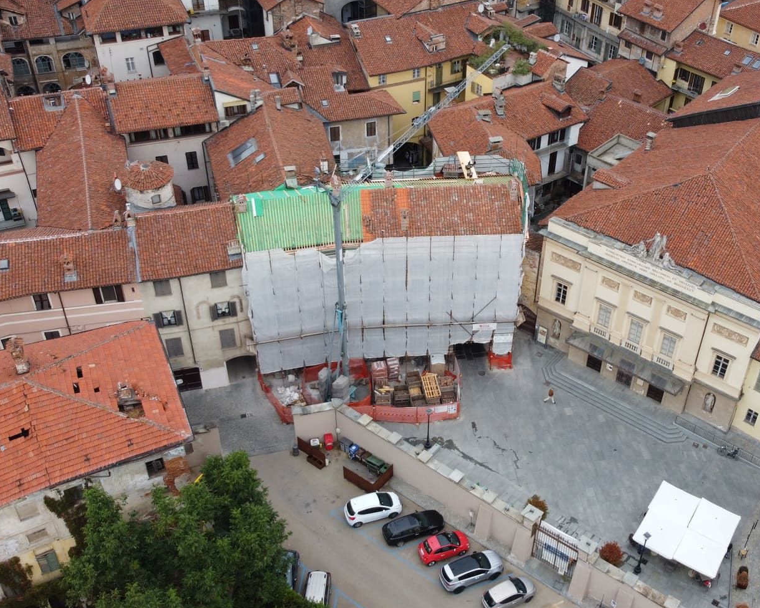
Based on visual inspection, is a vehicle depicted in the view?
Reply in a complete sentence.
Yes, looking at the shot, I can spot a vehicle.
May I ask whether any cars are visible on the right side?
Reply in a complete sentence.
Yes, I can see a car on the right side.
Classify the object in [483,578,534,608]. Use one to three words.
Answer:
car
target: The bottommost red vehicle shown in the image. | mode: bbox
[420,532,466,565]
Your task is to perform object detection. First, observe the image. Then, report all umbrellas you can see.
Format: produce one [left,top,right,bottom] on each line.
[672,527,724,580]
[633,510,684,561]
[683,497,739,546]
[649,482,699,526]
